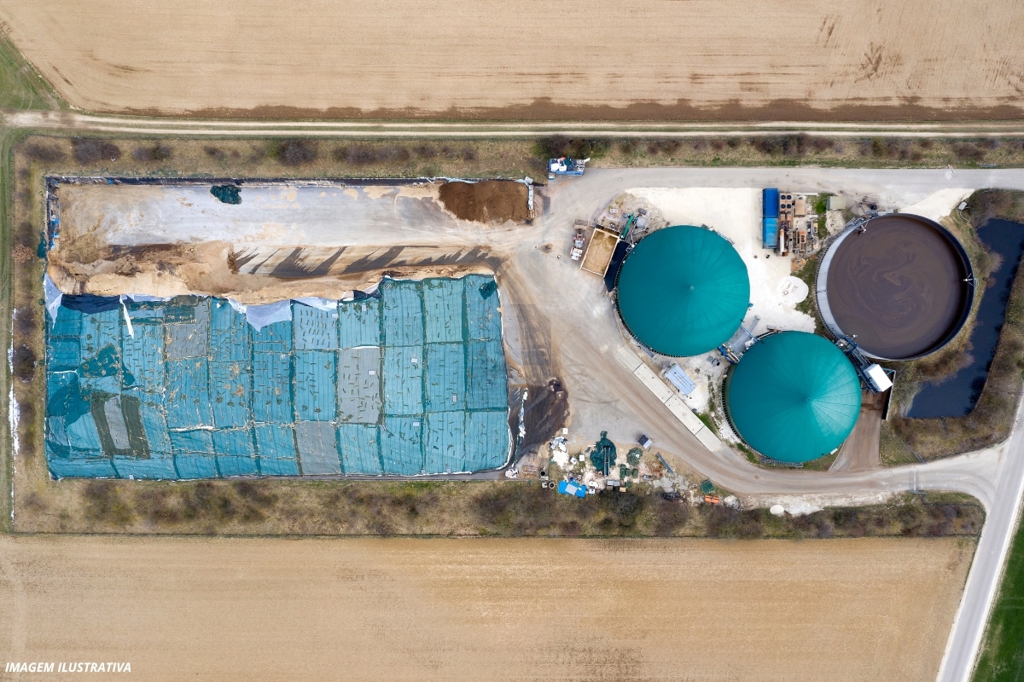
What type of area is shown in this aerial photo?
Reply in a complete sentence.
What you see here is an industrial area.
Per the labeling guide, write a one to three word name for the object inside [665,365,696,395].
shed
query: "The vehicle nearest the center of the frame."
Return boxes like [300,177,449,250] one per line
[570,220,585,260]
